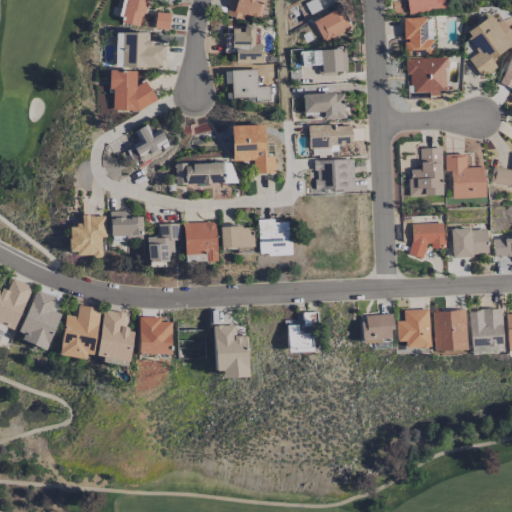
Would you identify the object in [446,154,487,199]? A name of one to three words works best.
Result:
house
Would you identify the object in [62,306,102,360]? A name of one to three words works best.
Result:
house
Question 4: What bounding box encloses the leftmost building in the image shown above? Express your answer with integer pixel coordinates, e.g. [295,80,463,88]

[0,280,36,338]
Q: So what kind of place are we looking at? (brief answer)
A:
residential area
